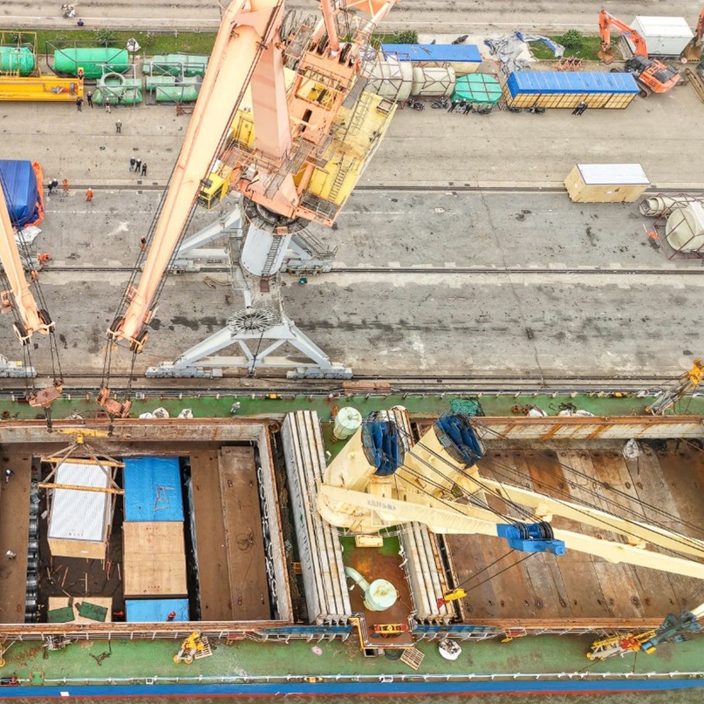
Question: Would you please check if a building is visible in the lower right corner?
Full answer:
No, the scene shows no building in the lower right corner.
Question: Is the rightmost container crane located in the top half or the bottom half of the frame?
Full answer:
The rightmost container crane sits in the top half of the picture.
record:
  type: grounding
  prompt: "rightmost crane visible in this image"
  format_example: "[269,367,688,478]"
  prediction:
[88,0,409,429]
